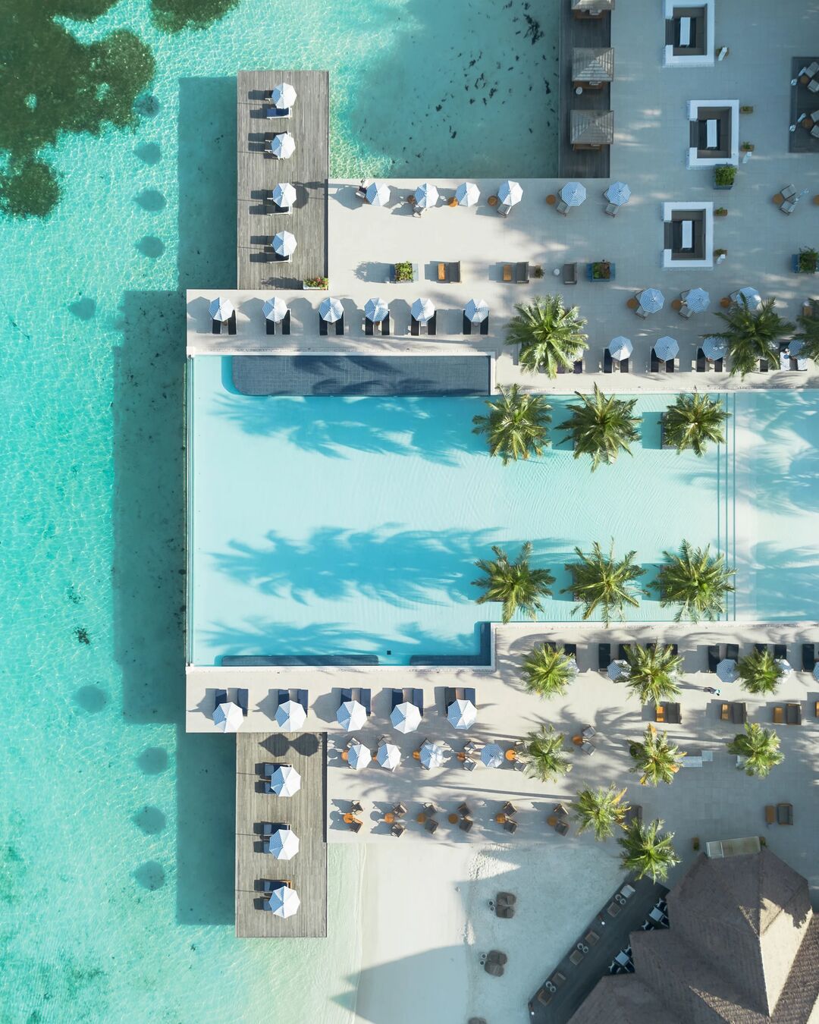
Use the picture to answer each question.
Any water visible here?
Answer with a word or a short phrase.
Yes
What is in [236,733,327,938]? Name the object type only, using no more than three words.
pier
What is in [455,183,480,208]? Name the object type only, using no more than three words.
umbrella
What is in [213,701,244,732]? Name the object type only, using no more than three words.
umbrella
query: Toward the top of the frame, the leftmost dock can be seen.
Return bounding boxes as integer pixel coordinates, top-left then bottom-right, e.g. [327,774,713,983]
[237,70,328,290]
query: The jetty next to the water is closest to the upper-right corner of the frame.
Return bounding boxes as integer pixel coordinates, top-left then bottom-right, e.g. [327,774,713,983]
[558,0,610,179]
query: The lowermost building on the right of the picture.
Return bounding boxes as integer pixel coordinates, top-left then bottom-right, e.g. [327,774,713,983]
[564,847,819,1024]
